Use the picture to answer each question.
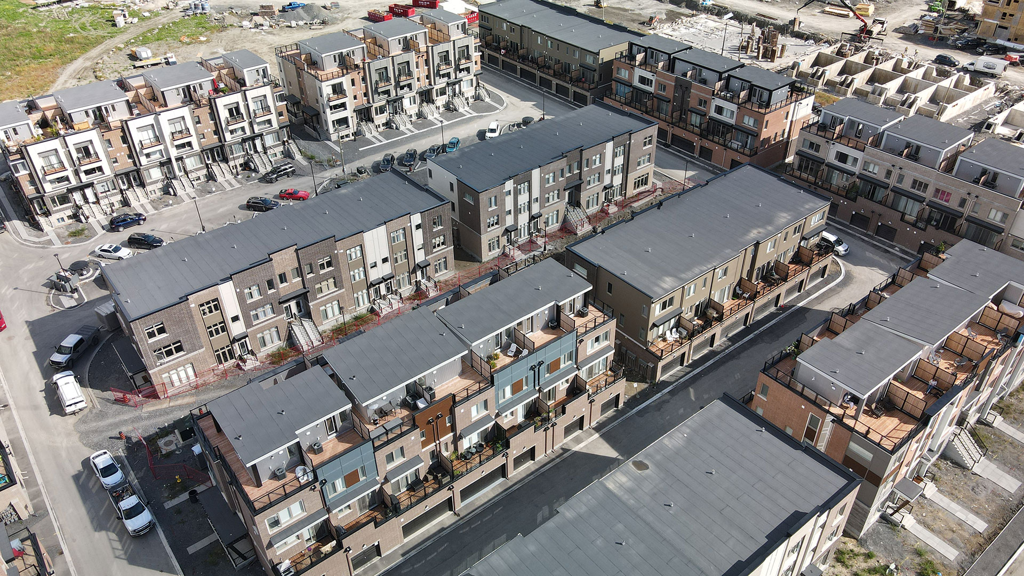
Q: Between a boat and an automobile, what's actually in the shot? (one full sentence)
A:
This aerial view contains an automobile.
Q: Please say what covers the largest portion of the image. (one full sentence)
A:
Most of the picture is covered by buildings.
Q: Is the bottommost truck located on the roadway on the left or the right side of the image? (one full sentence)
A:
The bottommost truck located on the roadway is on the left side of the image.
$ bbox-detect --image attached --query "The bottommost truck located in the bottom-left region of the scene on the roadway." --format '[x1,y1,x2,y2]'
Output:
[106,479,154,536]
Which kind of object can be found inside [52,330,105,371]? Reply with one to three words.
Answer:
truck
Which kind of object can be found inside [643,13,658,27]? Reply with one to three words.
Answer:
work vehicle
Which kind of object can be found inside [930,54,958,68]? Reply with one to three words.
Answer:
vehicle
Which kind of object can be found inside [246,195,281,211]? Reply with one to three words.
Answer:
car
